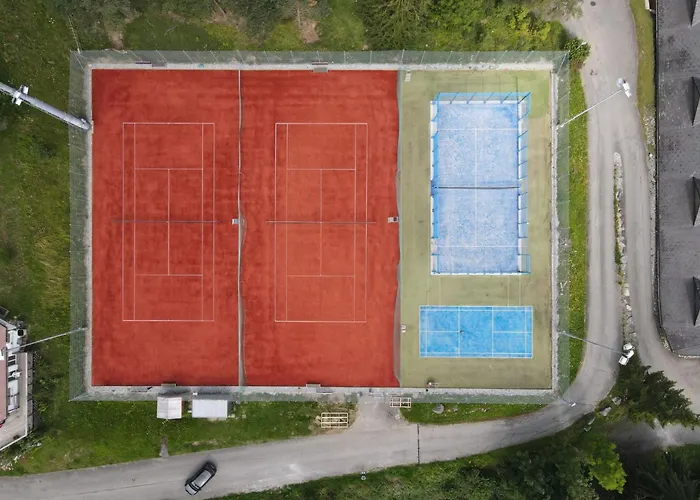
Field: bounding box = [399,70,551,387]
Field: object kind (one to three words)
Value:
sports court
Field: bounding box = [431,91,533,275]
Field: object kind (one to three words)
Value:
sports court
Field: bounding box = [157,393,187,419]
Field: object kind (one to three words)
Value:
shed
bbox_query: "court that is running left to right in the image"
[420,306,533,358]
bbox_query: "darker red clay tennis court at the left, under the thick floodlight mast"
[92,70,241,387]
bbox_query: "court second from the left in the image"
[241,70,399,387]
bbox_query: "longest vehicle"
[185,460,218,495]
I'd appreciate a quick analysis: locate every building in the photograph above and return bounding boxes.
[157,393,187,419]
[655,0,700,358]
[191,395,231,418]
[0,317,36,449]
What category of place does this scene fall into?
sports ground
